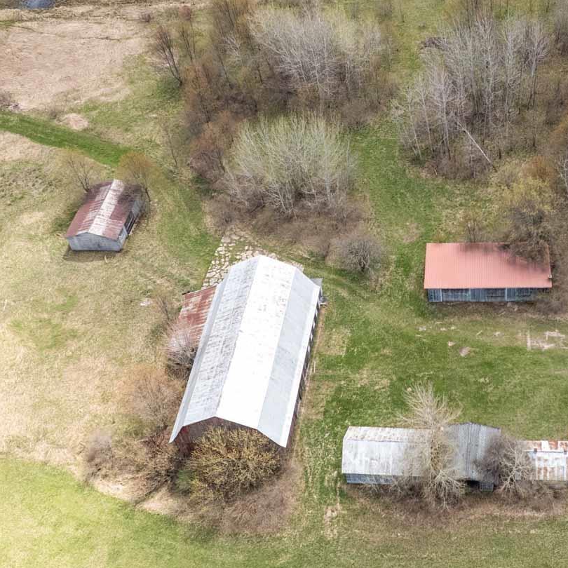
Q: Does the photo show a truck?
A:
No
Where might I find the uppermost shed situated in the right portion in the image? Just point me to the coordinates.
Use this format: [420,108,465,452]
[423,243,552,303]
